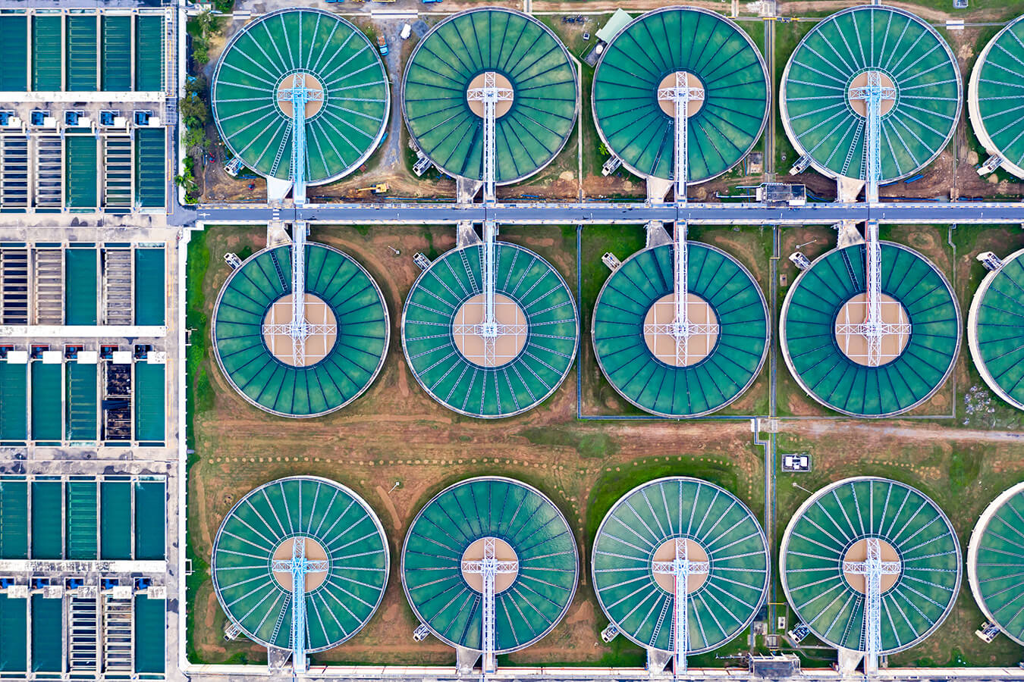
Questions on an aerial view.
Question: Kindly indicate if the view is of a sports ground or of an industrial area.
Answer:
industrial area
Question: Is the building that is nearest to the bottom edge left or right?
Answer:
right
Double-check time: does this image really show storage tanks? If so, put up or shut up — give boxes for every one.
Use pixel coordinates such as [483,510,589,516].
[401,5,580,187]
[969,16,1024,180]
[779,5,963,187]
[780,240,963,419]
[591,474,771,656]
[969,248,1024,411]
[211,5,392,187]
[211,240,392,419]
[780,474,963,656]
[401,474,580,656]
[401,240,580,419]
[969,481,1024,645]
[591,5,771,187]
[211,474,392,656]
[591,240,771,419]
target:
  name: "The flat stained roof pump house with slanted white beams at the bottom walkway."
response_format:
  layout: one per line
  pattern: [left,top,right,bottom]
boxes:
[747,653,800,677]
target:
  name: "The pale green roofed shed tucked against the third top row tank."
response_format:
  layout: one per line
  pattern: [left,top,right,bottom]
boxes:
[594,8,631,45]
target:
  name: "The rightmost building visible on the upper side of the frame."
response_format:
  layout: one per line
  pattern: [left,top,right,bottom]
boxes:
[756,184,806,206]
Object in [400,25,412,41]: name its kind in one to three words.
vehicle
